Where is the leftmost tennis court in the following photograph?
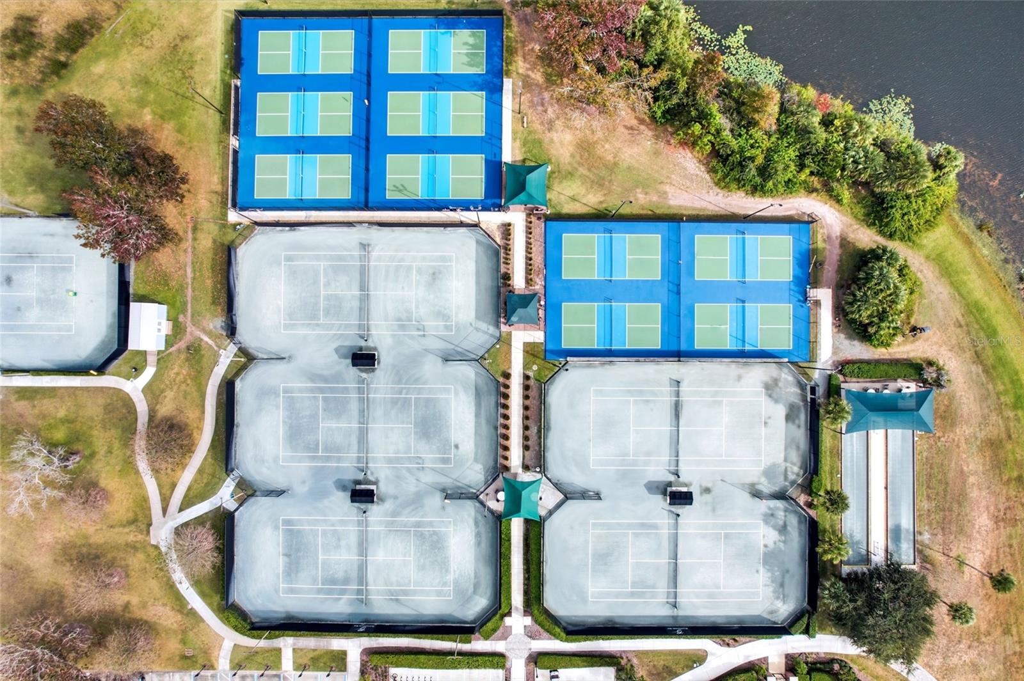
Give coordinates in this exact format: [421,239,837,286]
[0,218,129,370]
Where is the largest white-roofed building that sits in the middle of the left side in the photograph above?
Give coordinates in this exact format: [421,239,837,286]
[128,302,176,350]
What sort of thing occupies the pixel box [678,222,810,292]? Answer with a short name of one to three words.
sports court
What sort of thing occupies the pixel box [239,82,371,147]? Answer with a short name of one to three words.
sports court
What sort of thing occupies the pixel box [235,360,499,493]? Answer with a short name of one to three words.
tennis court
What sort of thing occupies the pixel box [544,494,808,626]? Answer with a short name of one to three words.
tennis court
